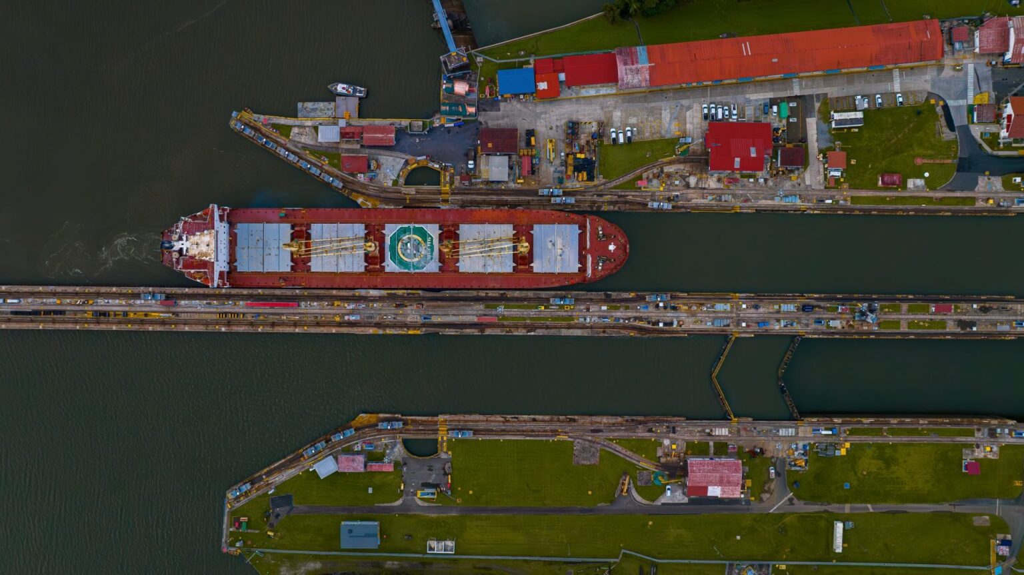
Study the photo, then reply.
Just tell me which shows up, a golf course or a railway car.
railway car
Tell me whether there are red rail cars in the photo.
No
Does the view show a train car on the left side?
Yes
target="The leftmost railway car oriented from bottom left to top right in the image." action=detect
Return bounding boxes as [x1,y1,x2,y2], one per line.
[229,481,253,499]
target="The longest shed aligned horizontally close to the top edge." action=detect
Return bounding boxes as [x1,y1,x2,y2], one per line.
[647,19,944,88]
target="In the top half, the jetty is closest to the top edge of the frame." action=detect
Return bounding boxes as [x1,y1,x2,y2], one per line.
[429,0,475,58]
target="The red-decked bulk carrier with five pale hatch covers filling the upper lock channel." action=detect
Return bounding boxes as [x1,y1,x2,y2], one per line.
[160,204,630,288]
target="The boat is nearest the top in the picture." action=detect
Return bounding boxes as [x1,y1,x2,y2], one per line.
[328,83,367,98]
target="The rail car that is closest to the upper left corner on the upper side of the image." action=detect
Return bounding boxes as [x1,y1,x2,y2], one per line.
[234,122,257,139]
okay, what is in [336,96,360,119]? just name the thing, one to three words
pier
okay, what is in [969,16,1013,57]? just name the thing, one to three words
house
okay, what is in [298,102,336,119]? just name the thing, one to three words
pier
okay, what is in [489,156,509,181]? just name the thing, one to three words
shed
